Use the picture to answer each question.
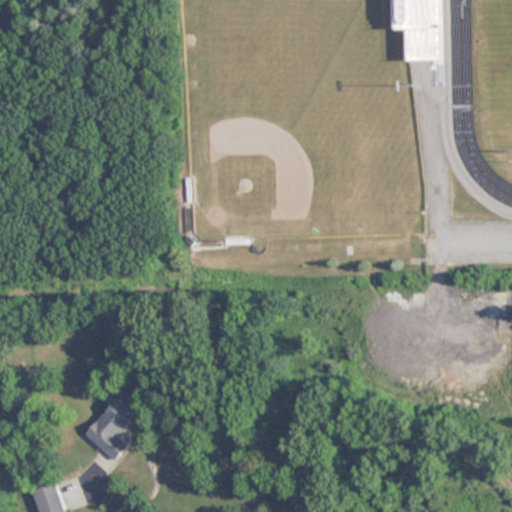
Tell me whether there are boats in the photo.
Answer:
No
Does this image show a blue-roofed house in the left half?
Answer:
No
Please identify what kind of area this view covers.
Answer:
sports ground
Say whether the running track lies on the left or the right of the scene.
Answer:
right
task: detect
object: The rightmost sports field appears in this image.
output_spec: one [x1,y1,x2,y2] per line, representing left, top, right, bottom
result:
[473,0,512,179]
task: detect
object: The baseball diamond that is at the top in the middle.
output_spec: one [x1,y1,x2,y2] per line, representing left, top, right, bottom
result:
[184,0,423,238]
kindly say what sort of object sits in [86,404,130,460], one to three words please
house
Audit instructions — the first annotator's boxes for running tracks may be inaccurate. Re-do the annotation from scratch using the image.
[452,0,512,203]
